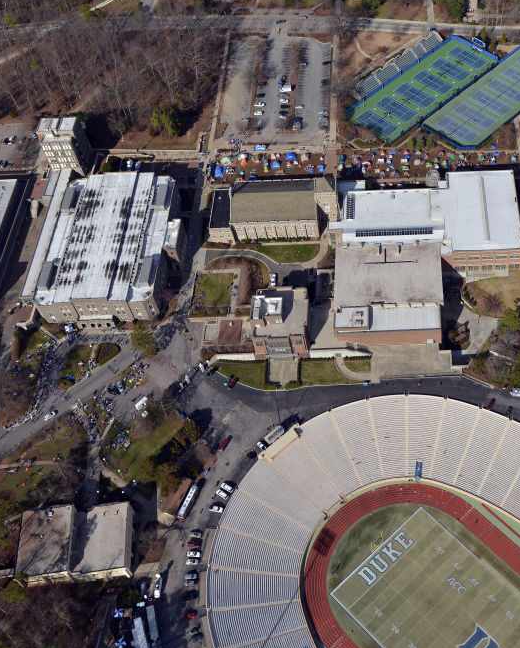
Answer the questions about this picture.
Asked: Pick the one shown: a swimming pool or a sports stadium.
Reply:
sports stadium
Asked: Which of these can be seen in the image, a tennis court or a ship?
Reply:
tennis court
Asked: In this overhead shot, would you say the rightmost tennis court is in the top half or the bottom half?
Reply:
top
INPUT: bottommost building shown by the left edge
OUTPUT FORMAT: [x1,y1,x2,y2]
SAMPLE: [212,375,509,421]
[15,502,136,586]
